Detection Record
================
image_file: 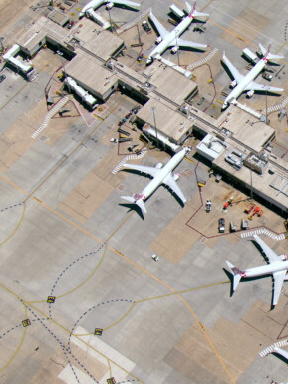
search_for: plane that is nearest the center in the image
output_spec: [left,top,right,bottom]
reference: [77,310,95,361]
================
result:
[123,149,190,213]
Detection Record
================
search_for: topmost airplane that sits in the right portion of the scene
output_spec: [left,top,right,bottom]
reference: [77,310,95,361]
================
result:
[146,0,209,64]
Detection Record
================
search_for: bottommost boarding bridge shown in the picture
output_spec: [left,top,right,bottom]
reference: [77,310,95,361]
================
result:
[142,124,187,161]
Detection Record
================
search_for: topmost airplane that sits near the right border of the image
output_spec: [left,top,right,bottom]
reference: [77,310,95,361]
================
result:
[222,42,285,108]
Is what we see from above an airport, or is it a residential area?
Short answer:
airport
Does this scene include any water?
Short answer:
No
